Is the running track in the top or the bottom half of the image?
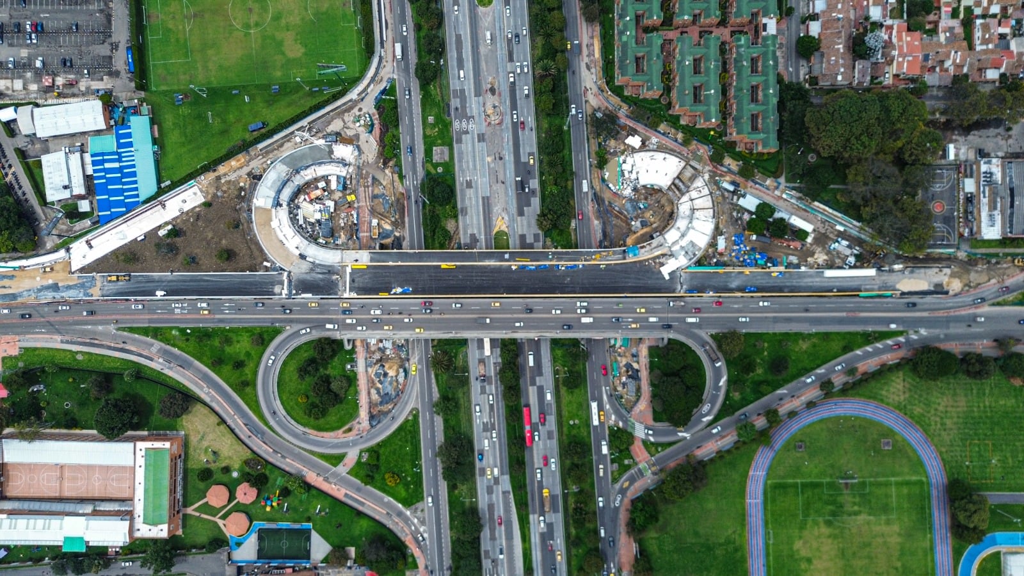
bottom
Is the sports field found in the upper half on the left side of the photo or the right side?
left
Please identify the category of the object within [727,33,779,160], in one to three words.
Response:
building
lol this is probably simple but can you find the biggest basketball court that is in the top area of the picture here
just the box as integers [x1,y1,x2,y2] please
[919,165,959,245]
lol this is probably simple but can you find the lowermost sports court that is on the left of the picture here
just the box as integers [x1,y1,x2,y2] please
[228,522,333,564]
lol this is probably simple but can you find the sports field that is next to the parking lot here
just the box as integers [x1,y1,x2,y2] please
[140,0,366,96]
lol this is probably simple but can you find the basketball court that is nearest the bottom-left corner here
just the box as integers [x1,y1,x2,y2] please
[0,460,134,499]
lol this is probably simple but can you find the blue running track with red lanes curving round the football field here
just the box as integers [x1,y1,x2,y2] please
[747,399,953,576]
